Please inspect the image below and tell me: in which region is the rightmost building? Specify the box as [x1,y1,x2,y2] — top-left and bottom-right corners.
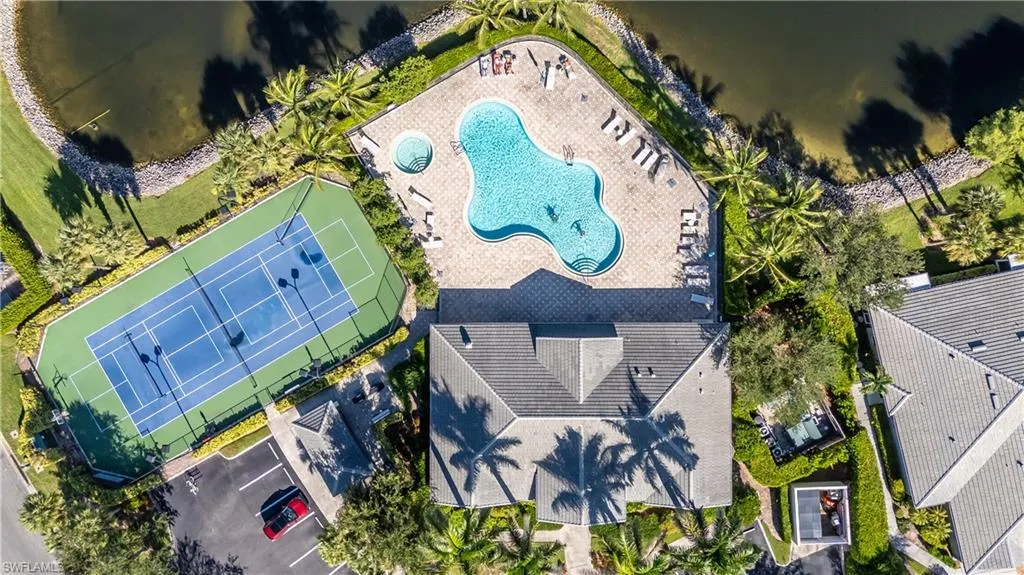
[863,247,1024,575]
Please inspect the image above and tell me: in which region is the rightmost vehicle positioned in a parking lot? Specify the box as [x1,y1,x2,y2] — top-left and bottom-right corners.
[262,499,311,538]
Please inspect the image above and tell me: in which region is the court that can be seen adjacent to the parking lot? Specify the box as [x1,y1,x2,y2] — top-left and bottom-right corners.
[35,176,405,480]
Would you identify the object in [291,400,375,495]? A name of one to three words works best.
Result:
building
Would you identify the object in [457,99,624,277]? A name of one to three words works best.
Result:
swimming pool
